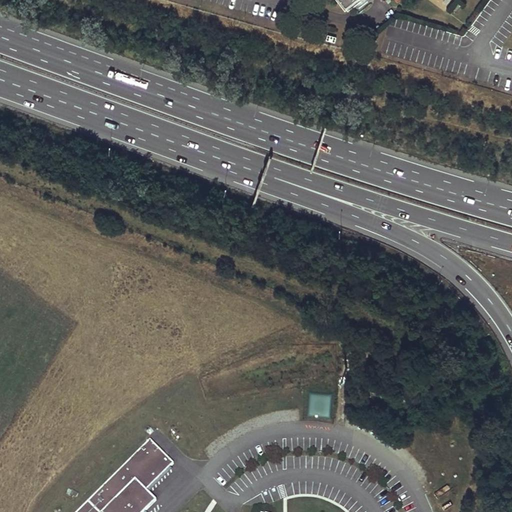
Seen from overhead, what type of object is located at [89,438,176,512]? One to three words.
building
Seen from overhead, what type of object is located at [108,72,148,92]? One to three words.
truck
